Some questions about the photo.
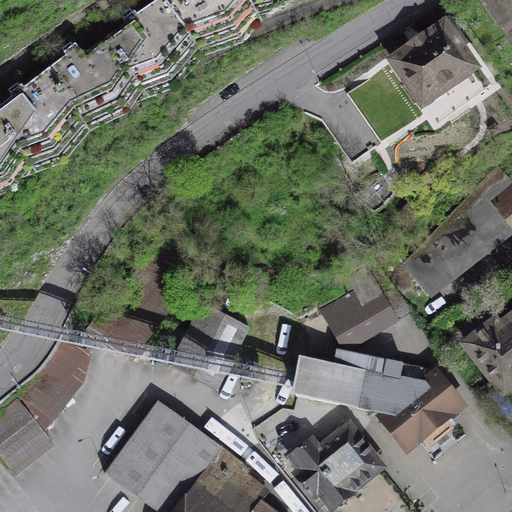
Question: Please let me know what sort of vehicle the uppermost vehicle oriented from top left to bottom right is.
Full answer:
The uppermost vehicle oriented from top left to bottom right can be classified as a bus.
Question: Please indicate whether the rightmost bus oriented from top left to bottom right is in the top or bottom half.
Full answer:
The bottom half of the photo is where the rightmost bus oriented from top left to bottom right is.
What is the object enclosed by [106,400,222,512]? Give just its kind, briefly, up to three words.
building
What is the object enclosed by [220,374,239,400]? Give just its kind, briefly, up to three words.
vehicle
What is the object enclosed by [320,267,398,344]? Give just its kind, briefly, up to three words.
house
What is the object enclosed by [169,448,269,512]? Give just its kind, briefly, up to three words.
building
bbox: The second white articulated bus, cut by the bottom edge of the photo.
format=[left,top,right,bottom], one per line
[274,480,316,512]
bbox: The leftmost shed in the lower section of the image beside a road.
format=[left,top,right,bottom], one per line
[0,399,53,474]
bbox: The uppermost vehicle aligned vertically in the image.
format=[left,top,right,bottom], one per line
[277,324,291,354]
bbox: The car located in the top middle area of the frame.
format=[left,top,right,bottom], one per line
[218,80,241,99]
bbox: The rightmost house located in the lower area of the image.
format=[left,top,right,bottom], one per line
[460,310,512,396]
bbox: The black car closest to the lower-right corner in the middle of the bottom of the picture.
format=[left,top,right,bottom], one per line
[276,421,299,434]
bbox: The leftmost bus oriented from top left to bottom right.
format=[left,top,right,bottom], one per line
[204,416,278,482]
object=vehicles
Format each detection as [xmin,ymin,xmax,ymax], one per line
[276,421,299,434]
[277,324,291,354]
[277,380,292,405]
[204,416,278,482]
[218,80,241,99]
[424,296,446,314]
[102,425,126,454]
[220,374,239,400]
[109,496,128,512]
[274,480,316,512]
